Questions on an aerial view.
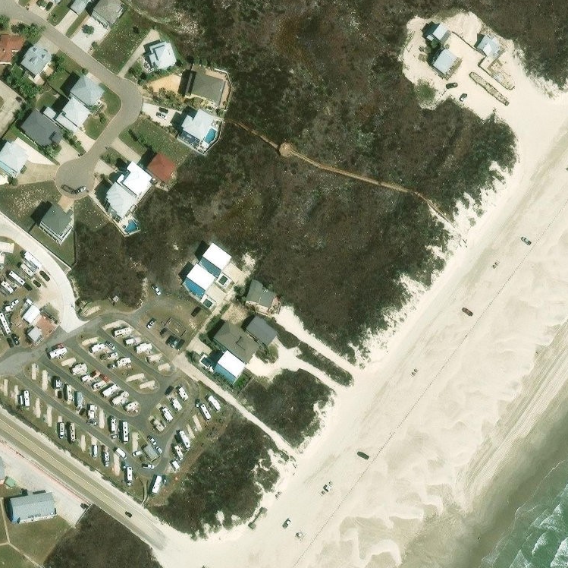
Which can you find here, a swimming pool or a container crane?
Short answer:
swimming pool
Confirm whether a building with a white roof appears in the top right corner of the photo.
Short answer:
Yes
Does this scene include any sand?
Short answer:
Yes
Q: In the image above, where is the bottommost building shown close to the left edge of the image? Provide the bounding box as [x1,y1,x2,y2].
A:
[8,490,56,525]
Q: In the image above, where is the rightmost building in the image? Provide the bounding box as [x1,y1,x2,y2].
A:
[478,33,503,59]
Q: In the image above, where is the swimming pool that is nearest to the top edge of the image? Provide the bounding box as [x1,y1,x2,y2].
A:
[198,128,218,151]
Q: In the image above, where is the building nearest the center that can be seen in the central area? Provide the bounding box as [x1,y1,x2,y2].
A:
[243,279,276,312]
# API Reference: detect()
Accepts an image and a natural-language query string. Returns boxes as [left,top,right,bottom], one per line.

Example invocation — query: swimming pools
[198,128,218,151]
[119,215,141,236]
[200,295,216,309]
[200,355,213,369]
[217,272,232,288]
